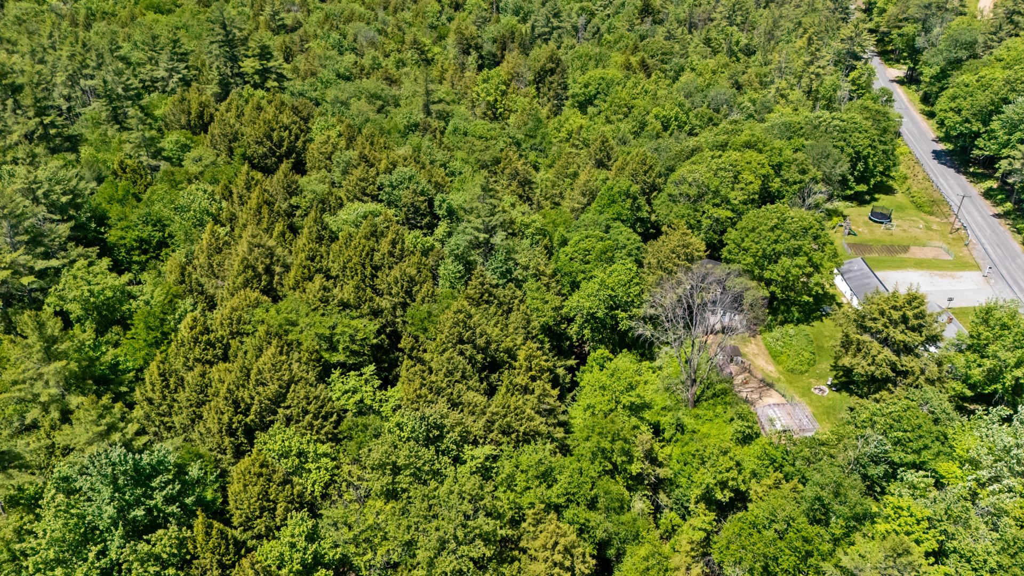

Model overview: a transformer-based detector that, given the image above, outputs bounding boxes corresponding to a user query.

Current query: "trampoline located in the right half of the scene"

[871,201,894,222]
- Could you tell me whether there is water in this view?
No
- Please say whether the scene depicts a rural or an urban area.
rural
